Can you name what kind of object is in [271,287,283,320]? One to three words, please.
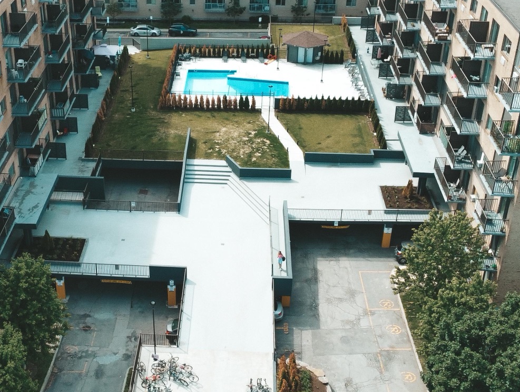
vehicle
